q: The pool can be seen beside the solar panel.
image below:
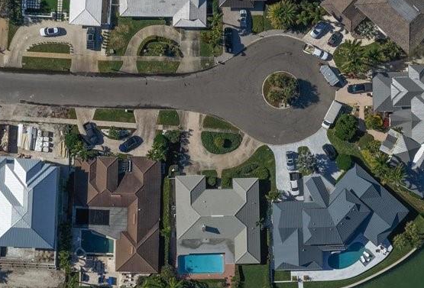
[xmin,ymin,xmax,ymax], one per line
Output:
[80,228,115,255]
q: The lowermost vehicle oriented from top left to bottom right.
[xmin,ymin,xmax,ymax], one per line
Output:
[321,142,337,161]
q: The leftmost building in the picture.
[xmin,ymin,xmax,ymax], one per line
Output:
[0,155,62,249]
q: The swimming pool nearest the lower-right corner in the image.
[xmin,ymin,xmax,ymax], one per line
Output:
[327,241,370,270]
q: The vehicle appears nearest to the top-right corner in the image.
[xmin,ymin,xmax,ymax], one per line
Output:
[328,29,343,47]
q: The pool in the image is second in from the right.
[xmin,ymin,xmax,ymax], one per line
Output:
[178,255,225,275]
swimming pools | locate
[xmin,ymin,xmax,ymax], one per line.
[178,255,225,275]
[327,241,370,270]
[80,228,115,255]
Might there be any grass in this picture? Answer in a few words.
Yes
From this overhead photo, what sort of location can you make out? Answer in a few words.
residential area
